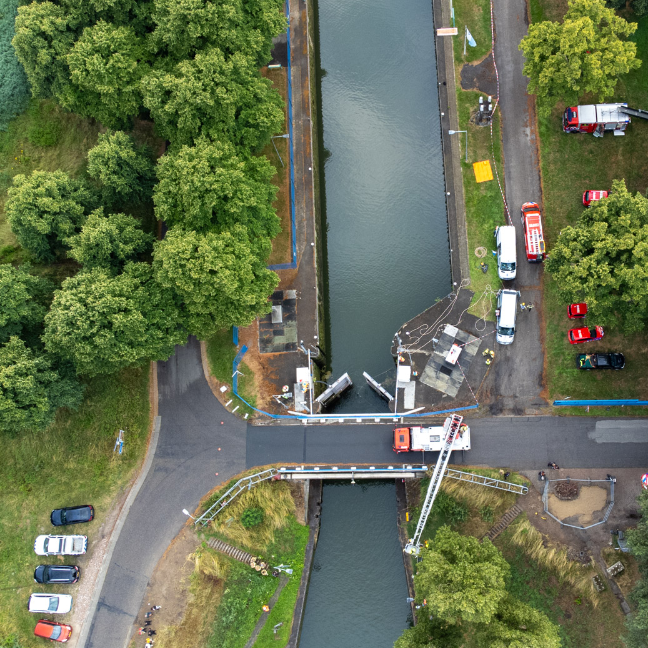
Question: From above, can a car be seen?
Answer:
Yes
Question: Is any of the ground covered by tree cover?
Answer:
Yes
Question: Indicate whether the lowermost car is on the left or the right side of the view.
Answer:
left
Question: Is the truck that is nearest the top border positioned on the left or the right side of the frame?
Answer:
right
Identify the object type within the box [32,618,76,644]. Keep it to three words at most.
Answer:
car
